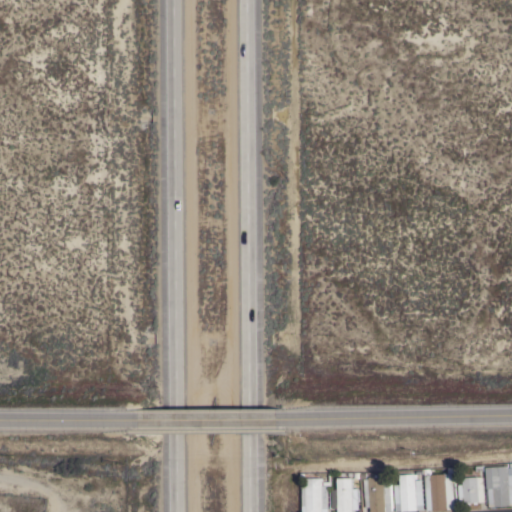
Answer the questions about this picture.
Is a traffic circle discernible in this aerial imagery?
No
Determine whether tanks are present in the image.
No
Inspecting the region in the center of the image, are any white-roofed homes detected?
No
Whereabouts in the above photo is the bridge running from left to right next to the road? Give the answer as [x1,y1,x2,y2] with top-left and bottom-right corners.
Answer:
[128,408,287,434]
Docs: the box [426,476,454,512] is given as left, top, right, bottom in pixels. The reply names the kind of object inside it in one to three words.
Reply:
house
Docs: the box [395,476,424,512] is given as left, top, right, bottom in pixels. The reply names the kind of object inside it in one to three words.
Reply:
house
